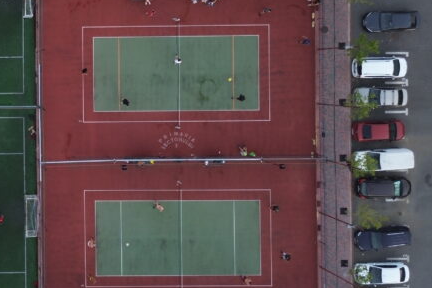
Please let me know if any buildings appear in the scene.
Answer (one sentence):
No, I can see no building in this picture.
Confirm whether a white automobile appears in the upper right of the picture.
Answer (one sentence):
Yes, the scene does show a white automobile in the upper right of the picture.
